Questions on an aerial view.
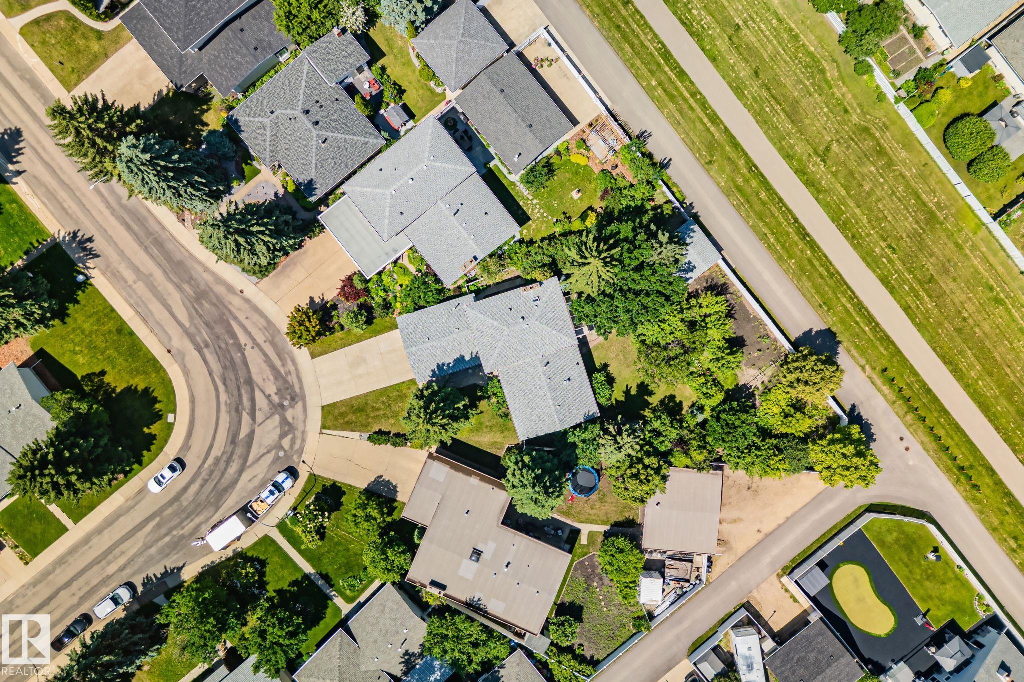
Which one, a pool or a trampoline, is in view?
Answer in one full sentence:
Of the two, only a trampoline appears.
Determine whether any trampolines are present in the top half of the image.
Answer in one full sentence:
No, in the top half of the image there is no trampoline.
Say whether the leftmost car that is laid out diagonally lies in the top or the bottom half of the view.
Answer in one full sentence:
Seen from above, the leftmost car that is laid out diagonally lies in the bottom half of the view.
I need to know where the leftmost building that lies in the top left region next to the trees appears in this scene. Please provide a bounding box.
[118,0,291,101]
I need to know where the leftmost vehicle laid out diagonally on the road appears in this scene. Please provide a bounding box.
[46,617,87,653]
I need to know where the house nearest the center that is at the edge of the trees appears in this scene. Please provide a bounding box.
[399,276,601,441]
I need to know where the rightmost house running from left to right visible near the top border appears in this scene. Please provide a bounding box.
[903,0,1021,54]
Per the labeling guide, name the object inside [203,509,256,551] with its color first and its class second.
white trailer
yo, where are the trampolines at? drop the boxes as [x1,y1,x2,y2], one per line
[570,466,602,501]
